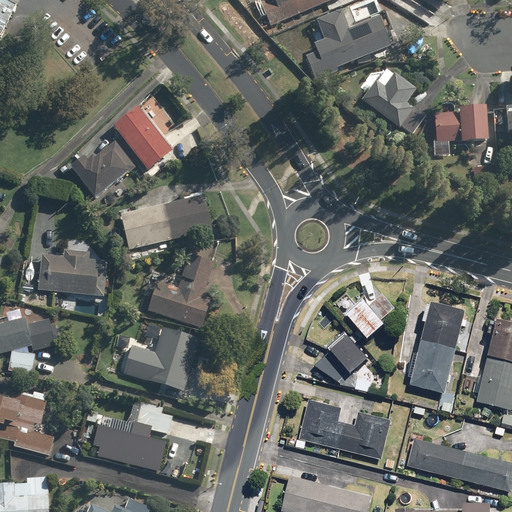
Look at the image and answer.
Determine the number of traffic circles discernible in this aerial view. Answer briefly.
1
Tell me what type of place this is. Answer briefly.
residential area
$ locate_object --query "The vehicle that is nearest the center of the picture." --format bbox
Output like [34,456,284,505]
[296,284,308,300]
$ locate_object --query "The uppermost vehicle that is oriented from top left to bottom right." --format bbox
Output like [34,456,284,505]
[200,28,213,43]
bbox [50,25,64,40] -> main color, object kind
white car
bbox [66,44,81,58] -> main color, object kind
white vehicle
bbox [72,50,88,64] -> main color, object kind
white vehicle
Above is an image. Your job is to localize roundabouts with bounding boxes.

[284,208,340,264]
